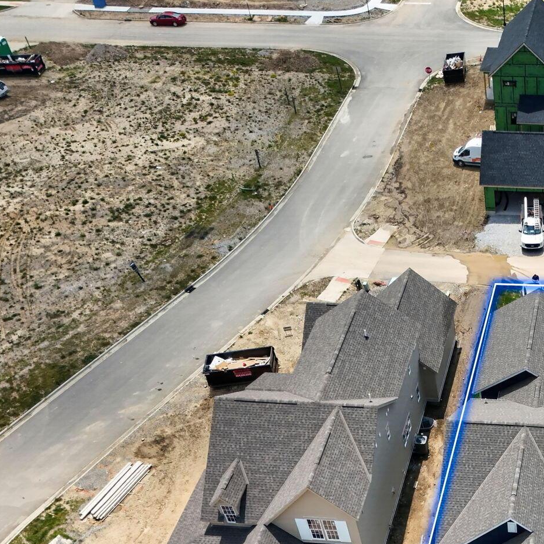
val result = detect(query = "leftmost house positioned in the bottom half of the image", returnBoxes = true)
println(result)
[168,267,458,544]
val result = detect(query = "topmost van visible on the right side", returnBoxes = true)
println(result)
[451,135,482,166]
